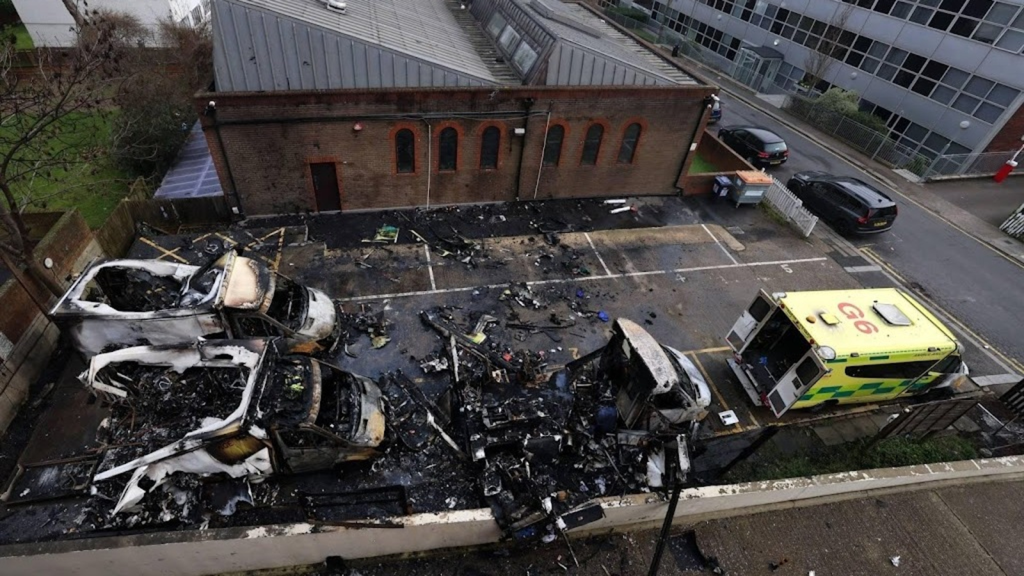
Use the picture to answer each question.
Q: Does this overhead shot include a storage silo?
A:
No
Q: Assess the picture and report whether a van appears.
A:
Yes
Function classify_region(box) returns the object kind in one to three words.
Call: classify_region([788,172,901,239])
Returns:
car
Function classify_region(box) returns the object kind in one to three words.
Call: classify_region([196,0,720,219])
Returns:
building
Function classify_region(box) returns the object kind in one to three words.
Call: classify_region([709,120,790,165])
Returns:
car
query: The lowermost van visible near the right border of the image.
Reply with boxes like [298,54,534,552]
[724,286,977,419]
